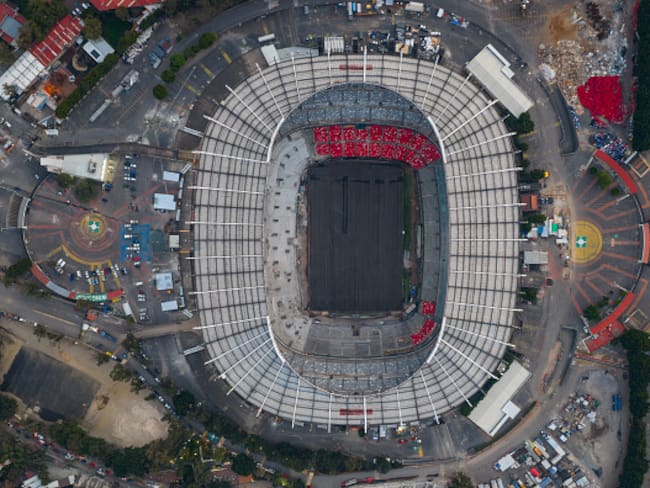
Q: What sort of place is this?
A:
sports ground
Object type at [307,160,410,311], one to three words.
soccer field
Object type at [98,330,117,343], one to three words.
vehicle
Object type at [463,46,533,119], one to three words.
building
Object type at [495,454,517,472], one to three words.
vehicle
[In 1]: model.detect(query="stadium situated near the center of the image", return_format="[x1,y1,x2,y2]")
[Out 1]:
[185,46,527,433]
